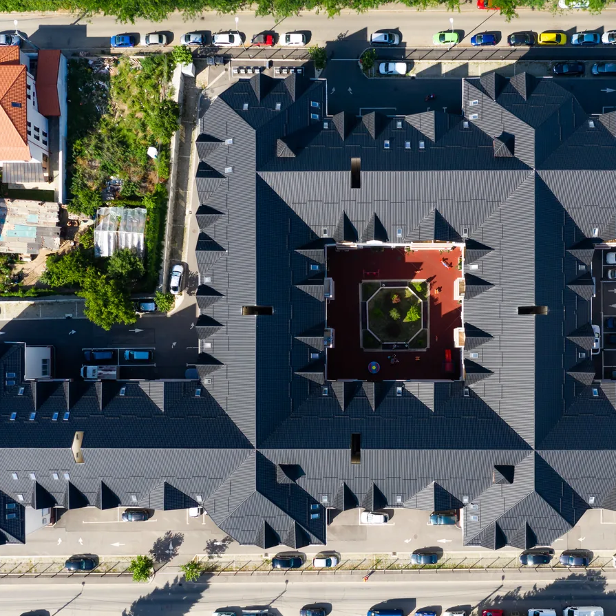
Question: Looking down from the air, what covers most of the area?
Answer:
buildings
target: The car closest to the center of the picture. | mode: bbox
[170,266,183,295]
